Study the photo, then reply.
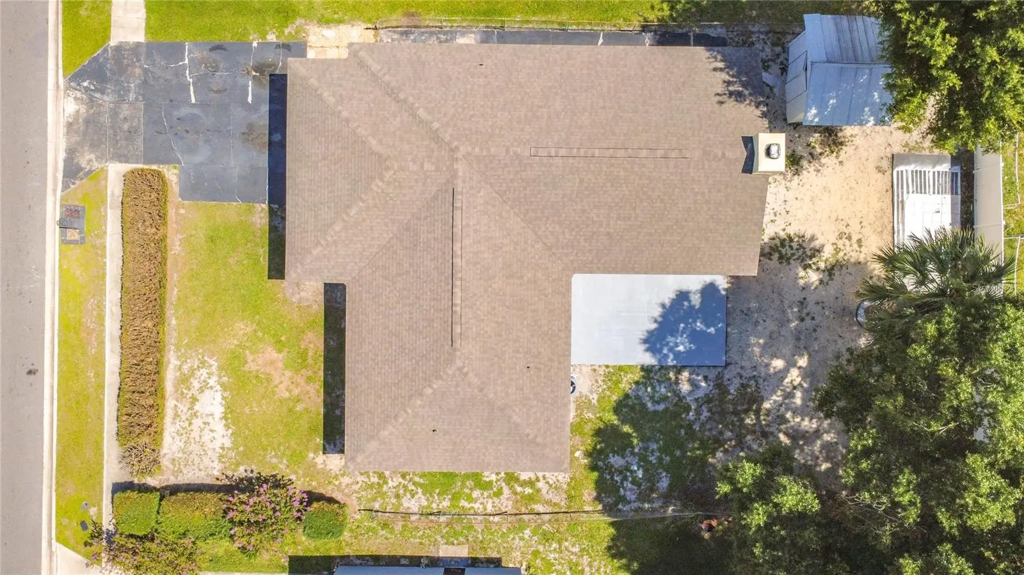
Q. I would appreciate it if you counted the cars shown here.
none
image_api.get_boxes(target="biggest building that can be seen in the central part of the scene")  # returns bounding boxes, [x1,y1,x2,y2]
[286,45,784,472]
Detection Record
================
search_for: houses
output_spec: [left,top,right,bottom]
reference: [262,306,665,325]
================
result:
[286,45,784,472]
[331,564,522,575]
